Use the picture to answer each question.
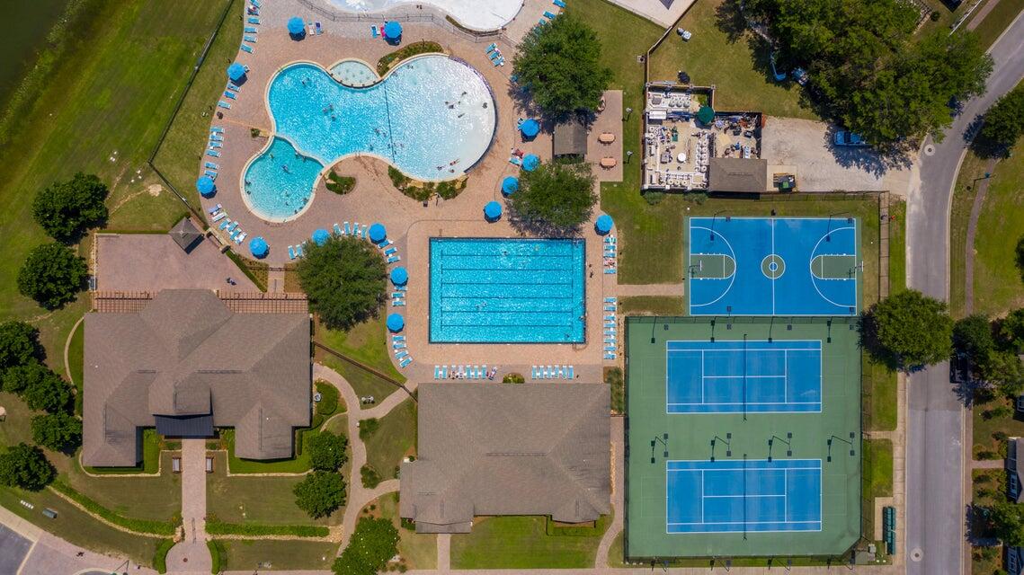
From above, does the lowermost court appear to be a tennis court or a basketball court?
tennis court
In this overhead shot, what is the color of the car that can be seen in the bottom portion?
black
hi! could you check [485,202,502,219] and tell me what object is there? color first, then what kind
blue umbrella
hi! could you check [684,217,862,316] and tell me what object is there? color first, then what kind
blue basketball court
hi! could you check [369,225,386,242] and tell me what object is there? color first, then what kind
blue umbrella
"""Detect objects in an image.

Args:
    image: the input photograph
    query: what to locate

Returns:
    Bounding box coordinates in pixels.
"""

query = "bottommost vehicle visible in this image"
[948,348,968,383]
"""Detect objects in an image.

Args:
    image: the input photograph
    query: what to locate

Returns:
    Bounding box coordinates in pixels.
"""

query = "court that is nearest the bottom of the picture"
[642,456,846,540]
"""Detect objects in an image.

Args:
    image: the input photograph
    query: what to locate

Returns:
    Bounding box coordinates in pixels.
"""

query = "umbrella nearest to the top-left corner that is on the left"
[228,63,245,80]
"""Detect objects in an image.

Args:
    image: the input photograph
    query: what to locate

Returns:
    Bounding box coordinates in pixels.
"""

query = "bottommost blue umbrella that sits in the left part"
[387,314,404,331]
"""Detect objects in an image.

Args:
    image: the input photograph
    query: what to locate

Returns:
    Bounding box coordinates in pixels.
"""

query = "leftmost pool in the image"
[240,136,324,223]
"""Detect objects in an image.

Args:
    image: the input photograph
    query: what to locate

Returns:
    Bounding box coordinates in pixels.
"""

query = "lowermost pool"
[429,234,587,346]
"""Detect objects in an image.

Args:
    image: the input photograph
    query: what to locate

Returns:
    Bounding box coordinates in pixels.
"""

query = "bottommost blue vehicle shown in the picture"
[832,130,873,146]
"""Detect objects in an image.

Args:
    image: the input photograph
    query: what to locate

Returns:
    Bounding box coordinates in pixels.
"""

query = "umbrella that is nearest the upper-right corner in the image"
[697,106,714,124]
